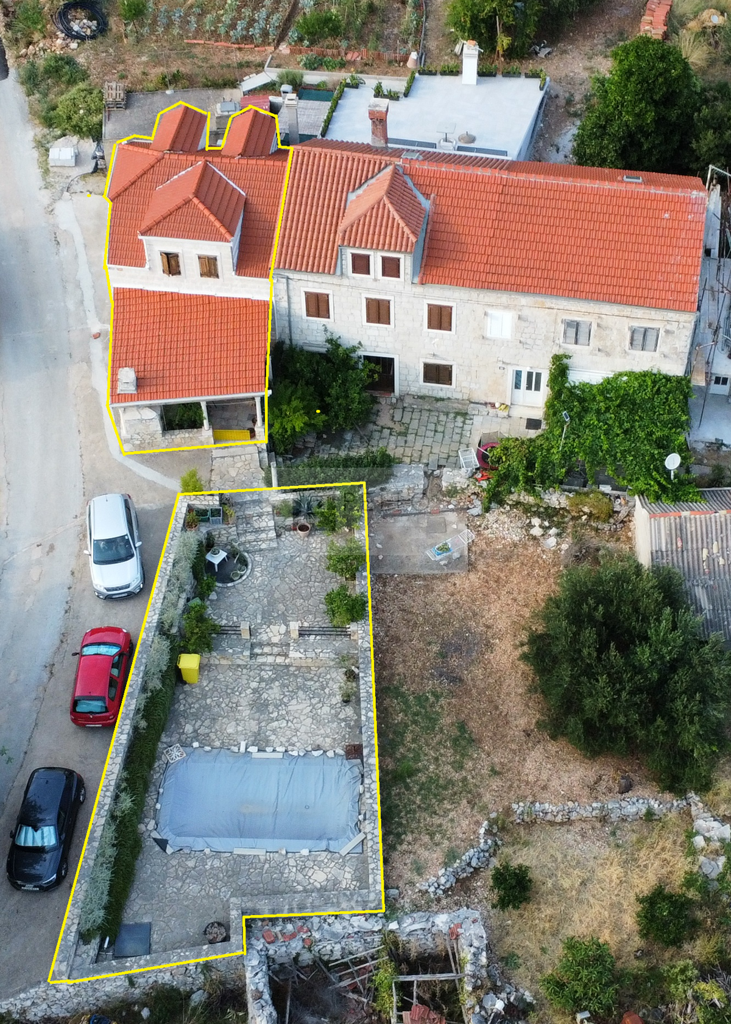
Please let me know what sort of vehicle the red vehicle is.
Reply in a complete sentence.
It looks like the red vehicle is an automobile.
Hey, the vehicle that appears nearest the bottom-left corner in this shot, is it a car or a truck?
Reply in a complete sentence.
Specifically, the vehicle that appears nearest the bottom-left corner is a car.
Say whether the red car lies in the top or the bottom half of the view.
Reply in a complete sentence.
The bottom half of the photo is where the red car is.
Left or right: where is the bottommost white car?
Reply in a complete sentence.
The bottommost white car appears in the left half of the scene.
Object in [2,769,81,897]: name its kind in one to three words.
car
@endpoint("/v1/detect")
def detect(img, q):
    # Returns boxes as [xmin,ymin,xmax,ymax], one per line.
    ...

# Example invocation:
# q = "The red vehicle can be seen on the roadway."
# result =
[69,631,129,732]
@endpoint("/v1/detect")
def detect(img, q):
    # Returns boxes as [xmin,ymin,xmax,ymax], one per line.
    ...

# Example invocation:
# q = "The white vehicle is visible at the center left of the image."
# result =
[84,497,146,604]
